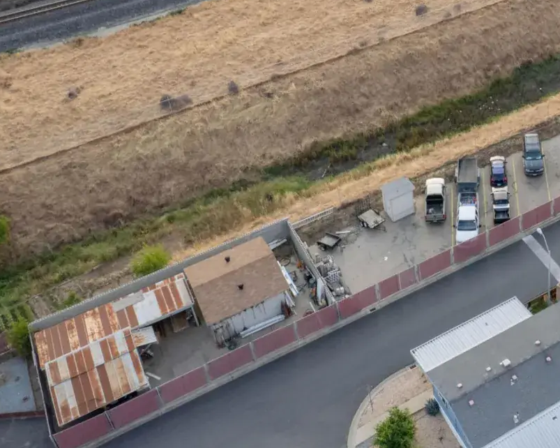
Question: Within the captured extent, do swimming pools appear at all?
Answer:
No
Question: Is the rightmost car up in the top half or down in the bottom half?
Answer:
top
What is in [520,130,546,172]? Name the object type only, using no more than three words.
car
